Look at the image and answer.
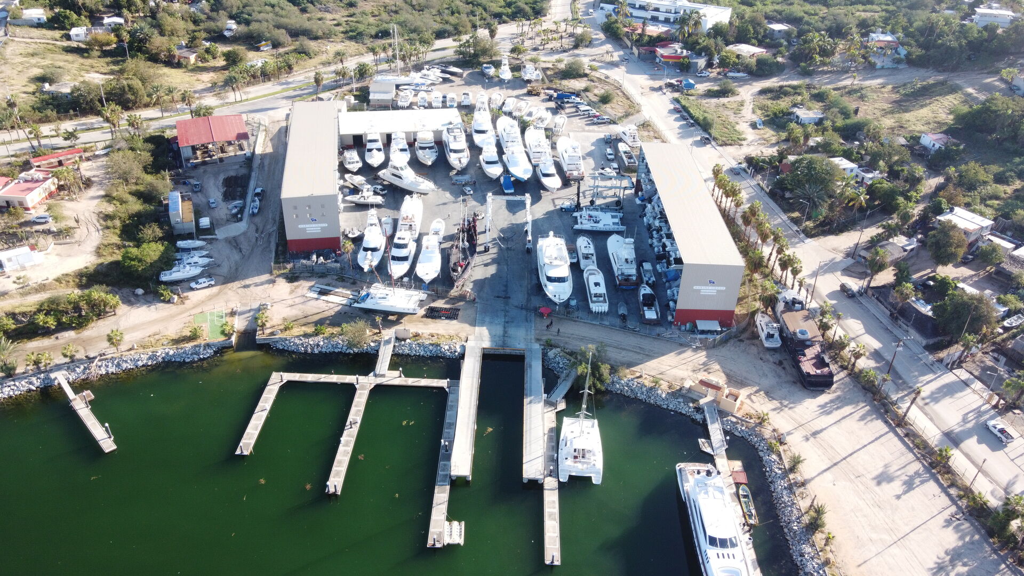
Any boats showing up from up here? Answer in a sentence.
Yes, a boat is visible in the scene.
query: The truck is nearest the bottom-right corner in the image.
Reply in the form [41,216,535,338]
[984,422,1022,446]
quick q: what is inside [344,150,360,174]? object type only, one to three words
boat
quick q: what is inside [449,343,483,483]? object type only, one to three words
pier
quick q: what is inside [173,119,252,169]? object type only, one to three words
shed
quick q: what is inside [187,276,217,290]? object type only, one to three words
vehicle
